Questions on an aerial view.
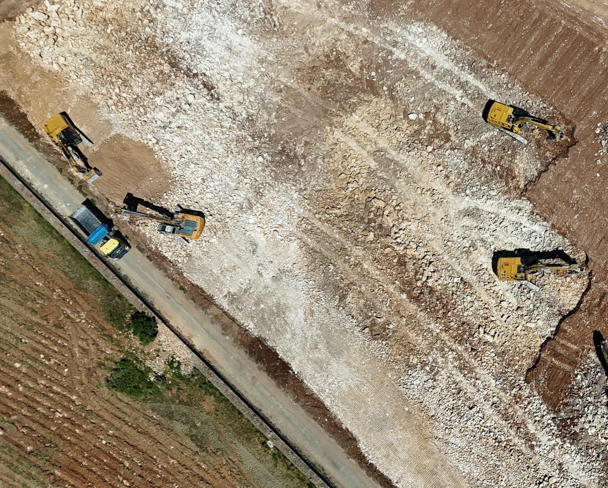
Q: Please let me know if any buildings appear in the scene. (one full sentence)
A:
No, the picture doesn't show any building.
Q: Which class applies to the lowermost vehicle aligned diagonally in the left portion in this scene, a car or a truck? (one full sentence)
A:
The lowermost vehicle aligned diagonally in the left portion appears to be a truck.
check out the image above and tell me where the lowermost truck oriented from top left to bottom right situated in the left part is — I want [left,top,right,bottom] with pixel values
[64,201,131,260]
